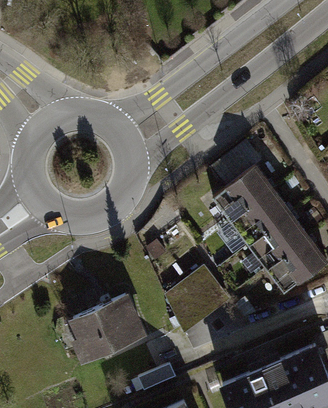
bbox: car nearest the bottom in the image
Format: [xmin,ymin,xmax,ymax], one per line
[160,348,180,361]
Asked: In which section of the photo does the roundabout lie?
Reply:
left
